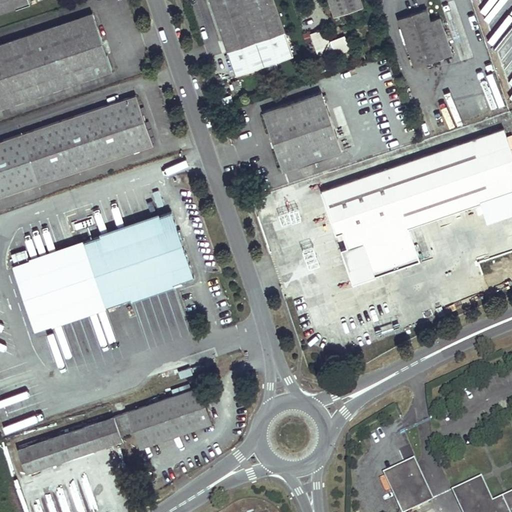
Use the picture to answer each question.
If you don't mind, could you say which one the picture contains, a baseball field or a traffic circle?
traffic circle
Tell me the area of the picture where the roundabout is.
bottom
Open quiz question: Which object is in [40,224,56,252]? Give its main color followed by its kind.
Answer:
white vehicle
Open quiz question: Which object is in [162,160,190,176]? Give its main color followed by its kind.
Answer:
white vehicle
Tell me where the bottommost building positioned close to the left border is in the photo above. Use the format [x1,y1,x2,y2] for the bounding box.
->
[18,420,122,478]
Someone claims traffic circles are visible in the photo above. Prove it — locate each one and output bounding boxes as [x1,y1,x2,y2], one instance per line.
[231,375,353,500]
